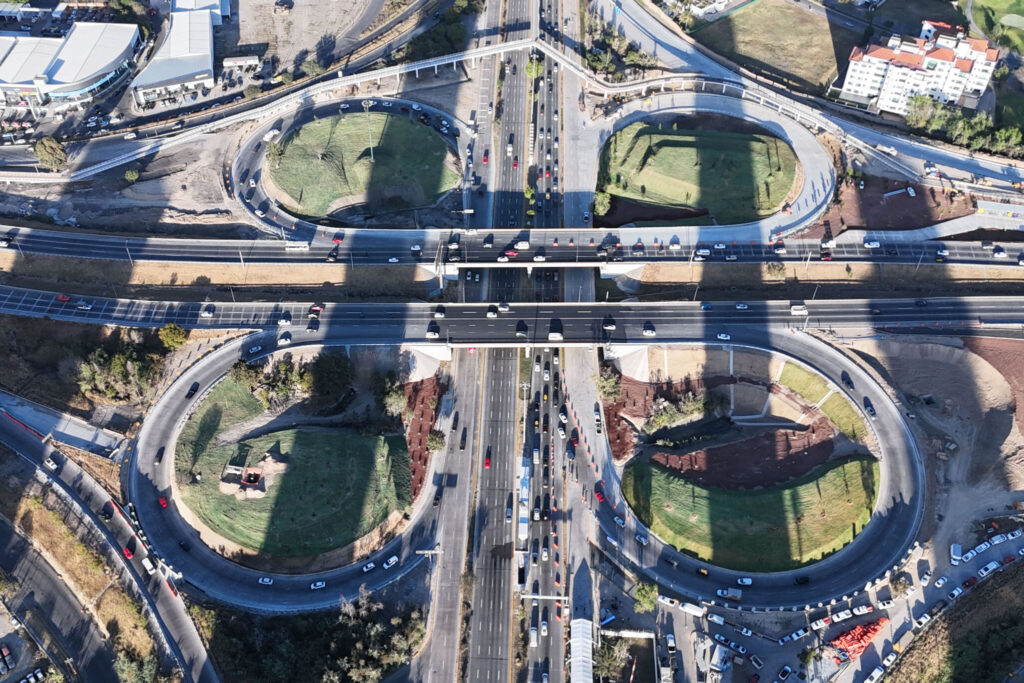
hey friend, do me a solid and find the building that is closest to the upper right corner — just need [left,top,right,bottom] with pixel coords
[835,17,1007,116]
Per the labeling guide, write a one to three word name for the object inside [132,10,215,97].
building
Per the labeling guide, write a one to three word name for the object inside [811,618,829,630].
vehicle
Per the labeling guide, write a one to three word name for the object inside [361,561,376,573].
vehicle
